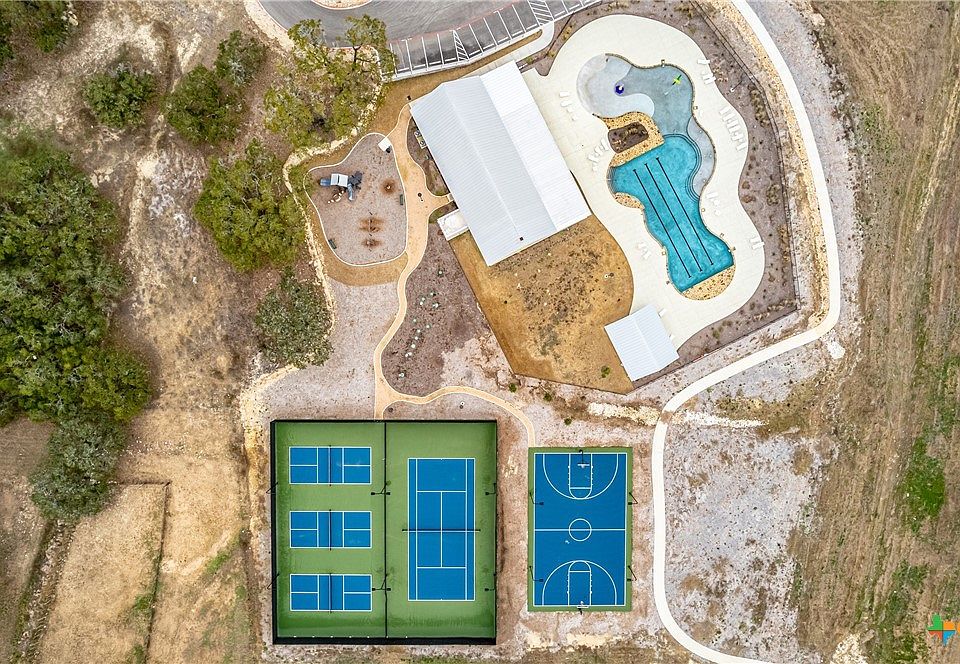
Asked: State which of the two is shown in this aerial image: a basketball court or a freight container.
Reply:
basketball court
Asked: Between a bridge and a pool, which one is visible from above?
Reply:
pool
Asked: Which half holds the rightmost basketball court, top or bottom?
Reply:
bottom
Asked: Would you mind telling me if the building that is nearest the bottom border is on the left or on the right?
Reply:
right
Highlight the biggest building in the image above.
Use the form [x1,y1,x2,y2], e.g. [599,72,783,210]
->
[408,60,592,266]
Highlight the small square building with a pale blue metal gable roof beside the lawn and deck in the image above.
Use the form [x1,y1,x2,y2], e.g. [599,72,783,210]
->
[605,305,679,382]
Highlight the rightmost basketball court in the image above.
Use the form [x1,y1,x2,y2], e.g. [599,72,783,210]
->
[528,447,632,611]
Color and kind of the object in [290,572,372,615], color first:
blue sports court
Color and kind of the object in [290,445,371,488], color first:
blue sports court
